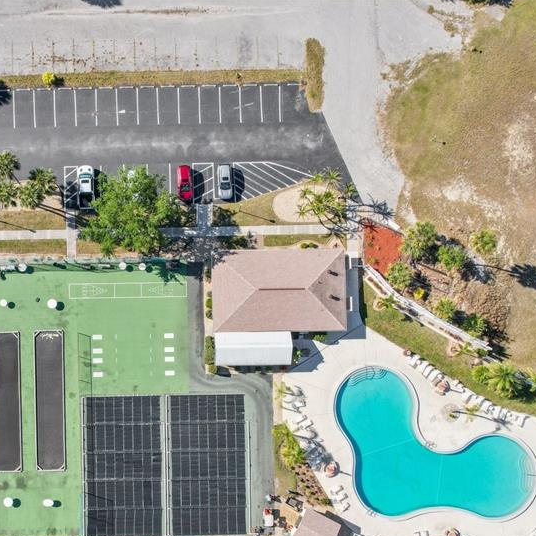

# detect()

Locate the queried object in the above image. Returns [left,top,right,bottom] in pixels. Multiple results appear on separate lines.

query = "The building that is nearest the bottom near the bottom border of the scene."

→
[292,508,341,536]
